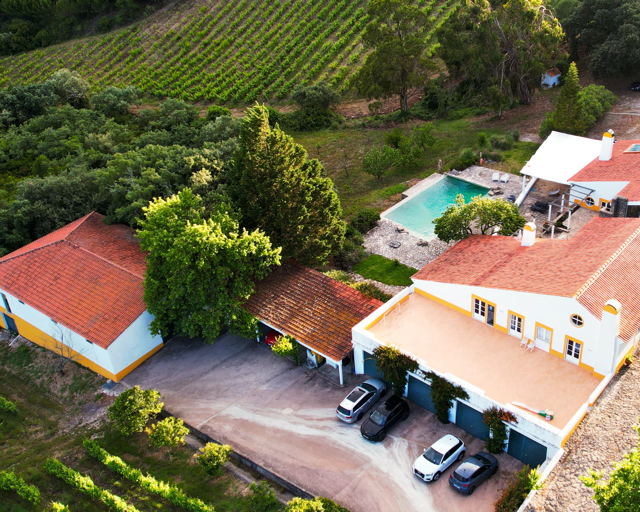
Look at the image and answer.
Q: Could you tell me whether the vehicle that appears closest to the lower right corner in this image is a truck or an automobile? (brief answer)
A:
automobile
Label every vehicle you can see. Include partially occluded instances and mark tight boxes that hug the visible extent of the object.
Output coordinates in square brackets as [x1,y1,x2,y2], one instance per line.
[409,431,468,484]
[333,375,390,426]
[445,444,505,496]
[356,393,413,444]
[261,324,281,340]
